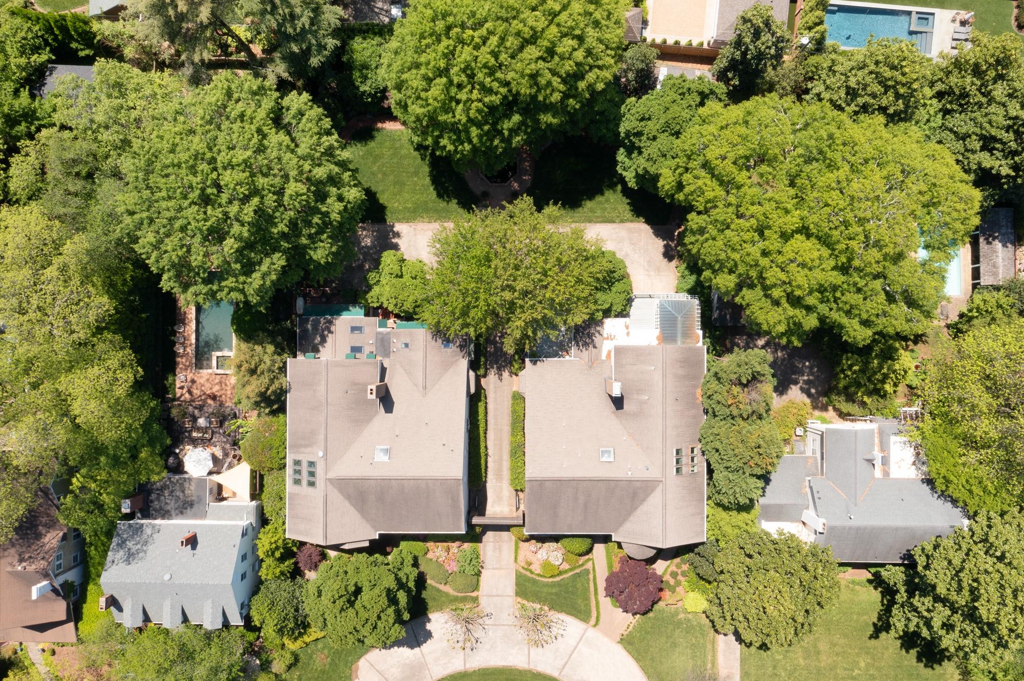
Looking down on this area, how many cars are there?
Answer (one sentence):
No cars are visible.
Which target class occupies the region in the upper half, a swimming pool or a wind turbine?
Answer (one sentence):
You can see a swimming pool in the upper half.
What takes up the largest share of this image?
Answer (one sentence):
The bulk of the photo consists of trees.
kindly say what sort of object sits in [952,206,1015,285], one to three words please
shed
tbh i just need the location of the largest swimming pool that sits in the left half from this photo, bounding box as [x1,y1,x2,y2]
[191,268,237,373]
